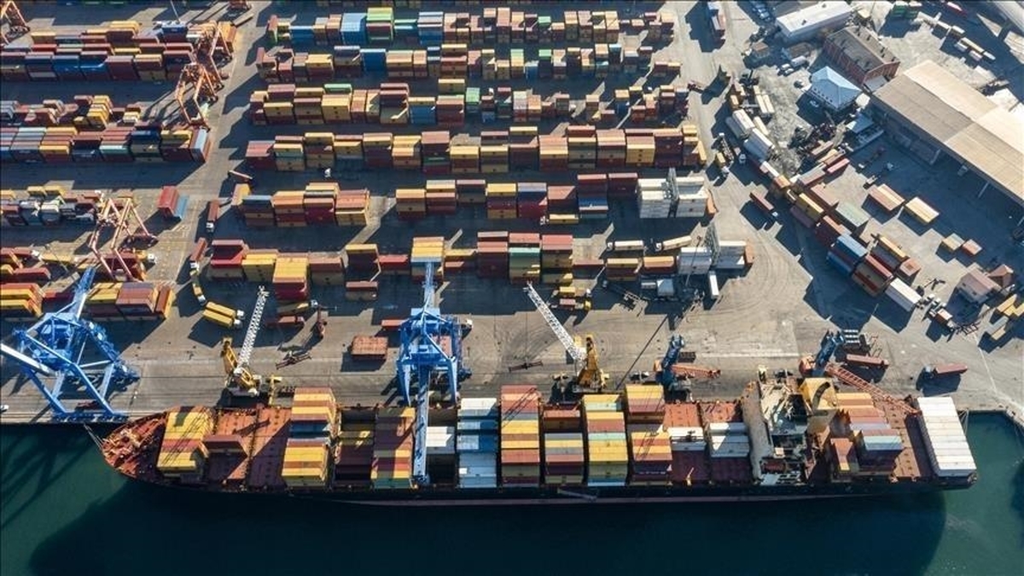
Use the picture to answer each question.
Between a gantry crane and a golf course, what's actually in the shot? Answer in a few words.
gantry crane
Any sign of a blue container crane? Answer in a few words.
Yes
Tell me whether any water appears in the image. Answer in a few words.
Yes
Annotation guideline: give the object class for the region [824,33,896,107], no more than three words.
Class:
building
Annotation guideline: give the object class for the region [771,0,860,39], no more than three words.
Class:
building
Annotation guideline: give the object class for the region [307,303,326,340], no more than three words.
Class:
work vehicle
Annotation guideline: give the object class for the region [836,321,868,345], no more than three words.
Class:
work vehicle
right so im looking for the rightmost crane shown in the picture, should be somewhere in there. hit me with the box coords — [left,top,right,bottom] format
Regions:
[793,328,925,417]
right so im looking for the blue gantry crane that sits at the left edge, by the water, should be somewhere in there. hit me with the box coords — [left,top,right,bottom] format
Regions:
[0,260,134,416]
